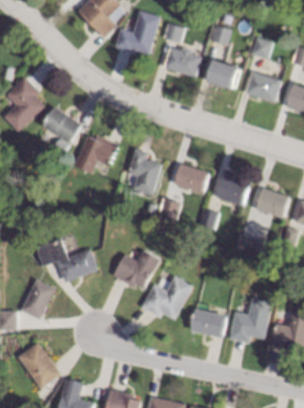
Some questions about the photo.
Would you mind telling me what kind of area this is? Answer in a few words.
residential area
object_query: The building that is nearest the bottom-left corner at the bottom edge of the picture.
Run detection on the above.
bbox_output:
[19,343,59,389]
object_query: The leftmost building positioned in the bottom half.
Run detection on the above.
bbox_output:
[0,312,20,330]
